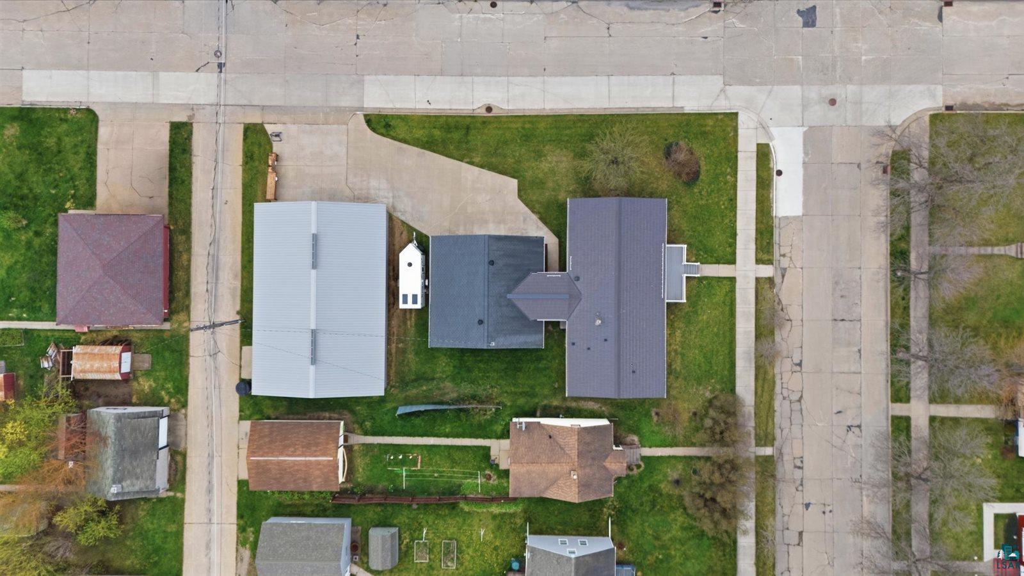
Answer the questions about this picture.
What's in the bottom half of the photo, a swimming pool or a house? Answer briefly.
house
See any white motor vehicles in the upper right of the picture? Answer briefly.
No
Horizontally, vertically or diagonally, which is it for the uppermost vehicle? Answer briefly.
vertically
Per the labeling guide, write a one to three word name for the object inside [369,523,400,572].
shed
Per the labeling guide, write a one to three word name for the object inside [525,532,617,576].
house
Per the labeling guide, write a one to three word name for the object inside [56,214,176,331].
building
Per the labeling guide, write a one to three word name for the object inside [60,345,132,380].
shed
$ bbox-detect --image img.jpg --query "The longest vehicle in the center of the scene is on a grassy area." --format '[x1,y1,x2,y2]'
[397,231,428,308]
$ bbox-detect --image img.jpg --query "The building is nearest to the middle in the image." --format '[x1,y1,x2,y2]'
[428,235,545,350]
